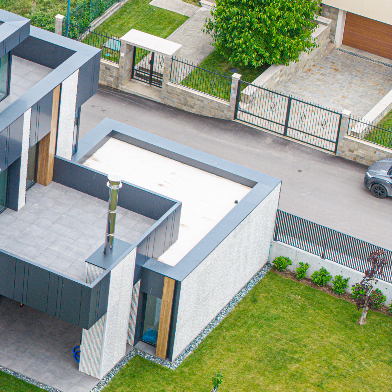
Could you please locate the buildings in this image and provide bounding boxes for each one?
[0,10,282,392]
[304,0,392,59]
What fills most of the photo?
buildings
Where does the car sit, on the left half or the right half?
right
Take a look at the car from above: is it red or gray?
gray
